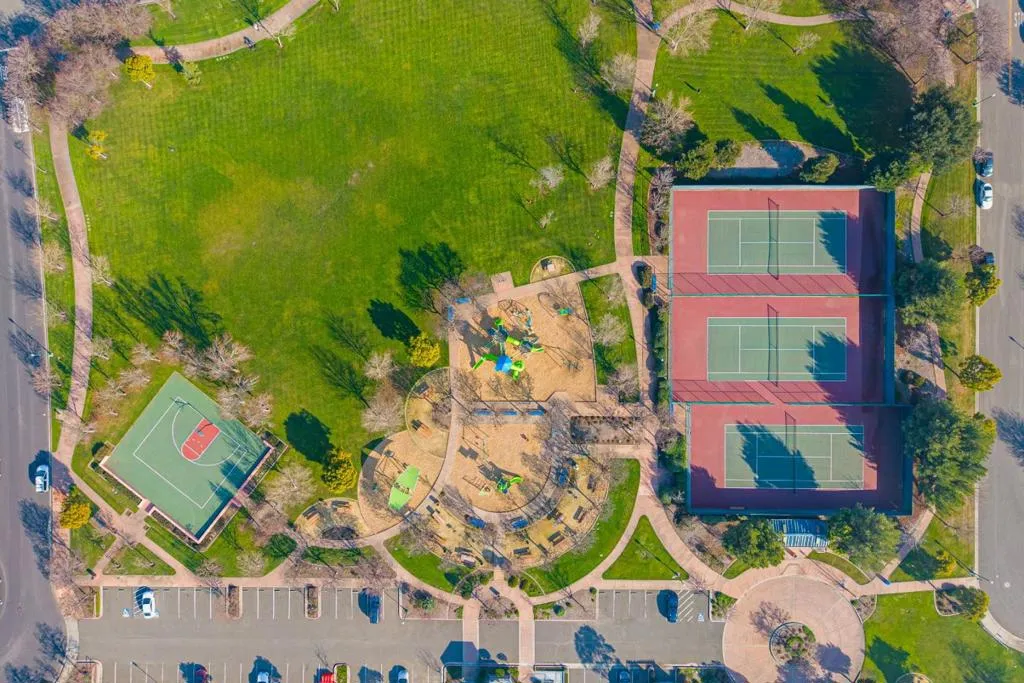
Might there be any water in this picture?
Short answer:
No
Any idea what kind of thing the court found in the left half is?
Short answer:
basketball court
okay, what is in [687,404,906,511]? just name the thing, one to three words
tennis court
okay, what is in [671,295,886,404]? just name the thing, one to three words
tennis court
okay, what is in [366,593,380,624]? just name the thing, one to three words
car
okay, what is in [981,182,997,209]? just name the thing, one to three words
car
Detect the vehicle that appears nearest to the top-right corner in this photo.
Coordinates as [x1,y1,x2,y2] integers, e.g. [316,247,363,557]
[979,148,996,176]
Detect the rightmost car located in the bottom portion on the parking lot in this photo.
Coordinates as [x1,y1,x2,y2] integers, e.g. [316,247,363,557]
[666,593,680,624]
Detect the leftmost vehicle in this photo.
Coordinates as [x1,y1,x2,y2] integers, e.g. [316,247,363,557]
[31,464,48,494]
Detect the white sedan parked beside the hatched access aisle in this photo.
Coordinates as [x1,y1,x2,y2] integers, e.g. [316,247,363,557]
[138,592,154,620]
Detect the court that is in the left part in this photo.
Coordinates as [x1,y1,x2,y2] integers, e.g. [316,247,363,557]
[101,372,269,541]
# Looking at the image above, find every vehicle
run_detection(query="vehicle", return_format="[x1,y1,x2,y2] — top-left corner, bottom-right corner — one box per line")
[666,593,680,624]
[979,148,996,176]
[981,182,997,209]
[396,671,409,683]
[138,592,154,620]
[320,674,333,683]
[255,673,269,683]
[192,670,207,683]
[366,593,380,624]
[31,464,48,494]
[619,673,631,683]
